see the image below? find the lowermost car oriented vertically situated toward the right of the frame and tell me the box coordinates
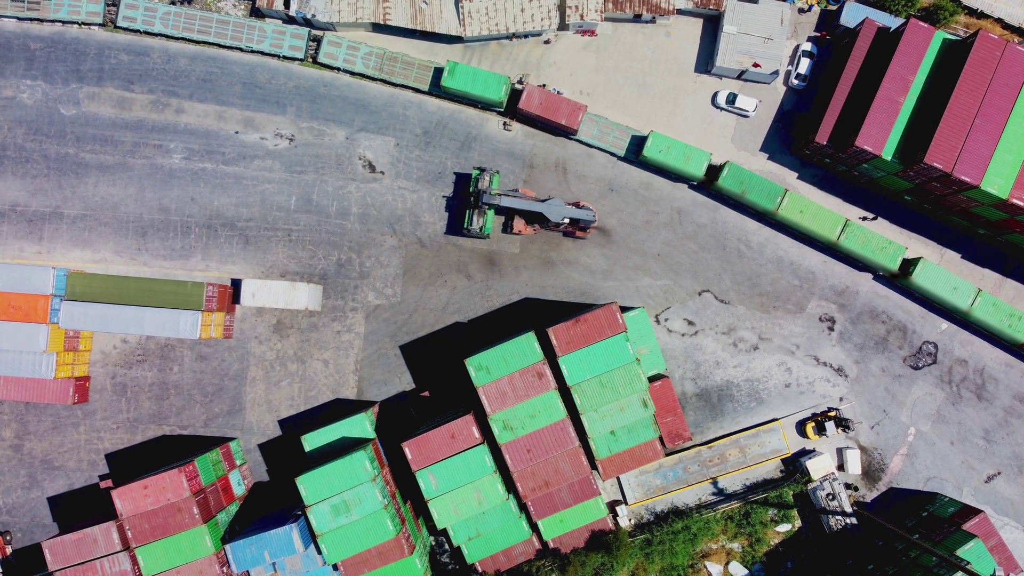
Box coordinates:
[791,41,820,91]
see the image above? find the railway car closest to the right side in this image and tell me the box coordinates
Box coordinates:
[891,255,1024,352]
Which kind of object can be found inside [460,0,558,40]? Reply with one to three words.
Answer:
shed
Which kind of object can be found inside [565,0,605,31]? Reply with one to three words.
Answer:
shed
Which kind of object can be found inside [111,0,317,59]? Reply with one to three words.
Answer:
rail car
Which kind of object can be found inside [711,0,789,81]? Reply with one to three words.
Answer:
house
